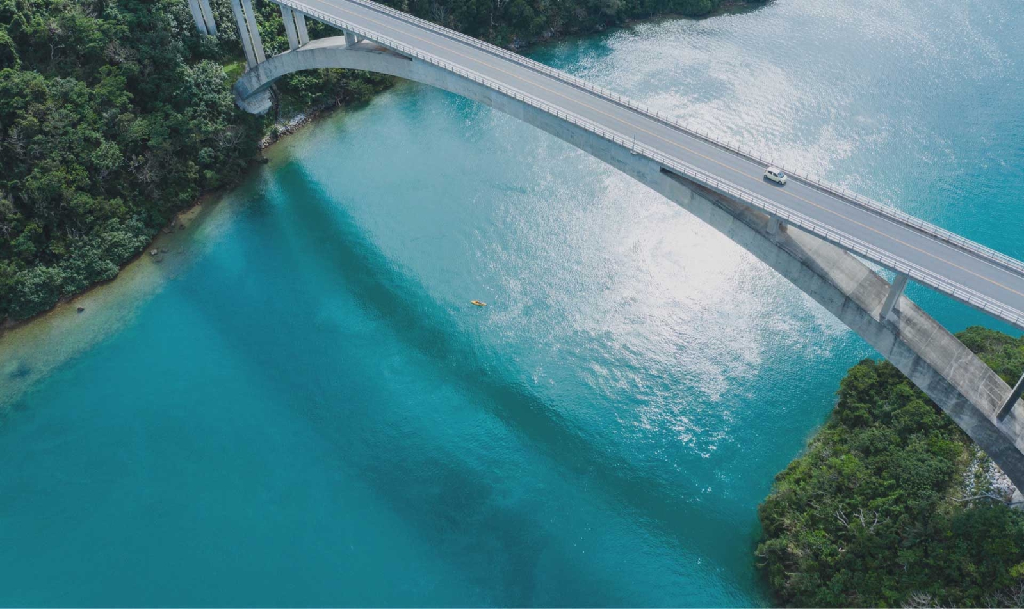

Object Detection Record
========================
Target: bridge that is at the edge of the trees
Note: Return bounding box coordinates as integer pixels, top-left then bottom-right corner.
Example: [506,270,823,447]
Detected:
[154,0,1024,497]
